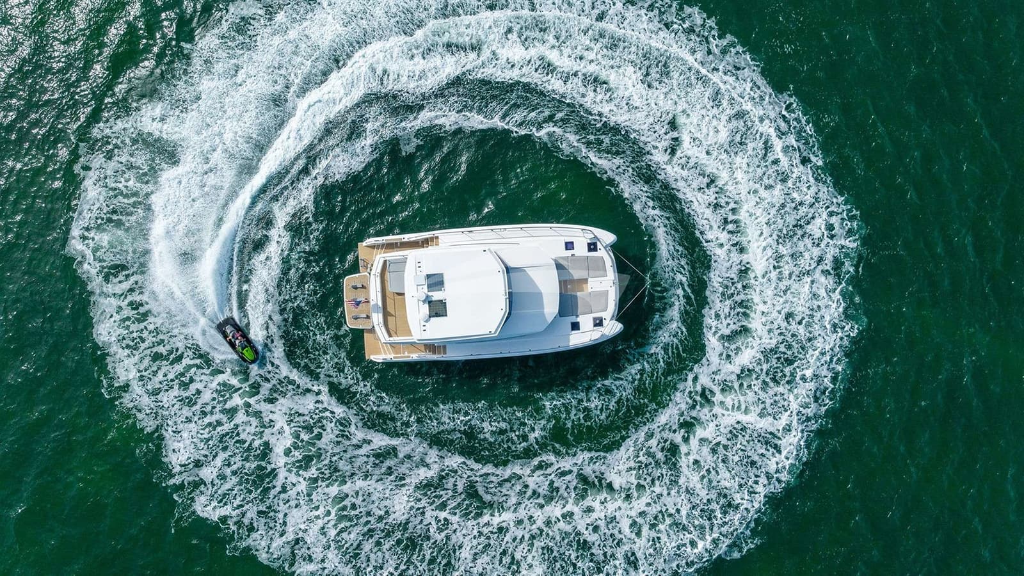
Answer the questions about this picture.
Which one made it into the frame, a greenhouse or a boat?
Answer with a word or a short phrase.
boat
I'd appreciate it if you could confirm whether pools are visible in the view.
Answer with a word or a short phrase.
No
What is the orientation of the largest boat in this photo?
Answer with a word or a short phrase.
horizontally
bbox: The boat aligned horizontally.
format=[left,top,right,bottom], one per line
[344,223,623,363]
